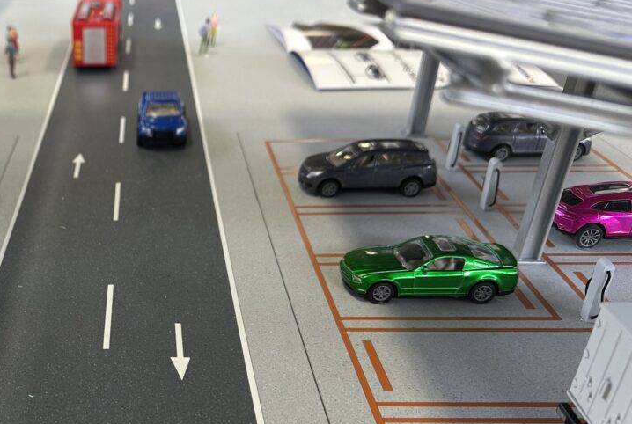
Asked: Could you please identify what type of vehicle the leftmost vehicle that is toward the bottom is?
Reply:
car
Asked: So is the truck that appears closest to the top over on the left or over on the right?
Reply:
left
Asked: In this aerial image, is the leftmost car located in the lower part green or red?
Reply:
green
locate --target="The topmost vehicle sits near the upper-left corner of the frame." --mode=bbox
[73,0,121,65]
